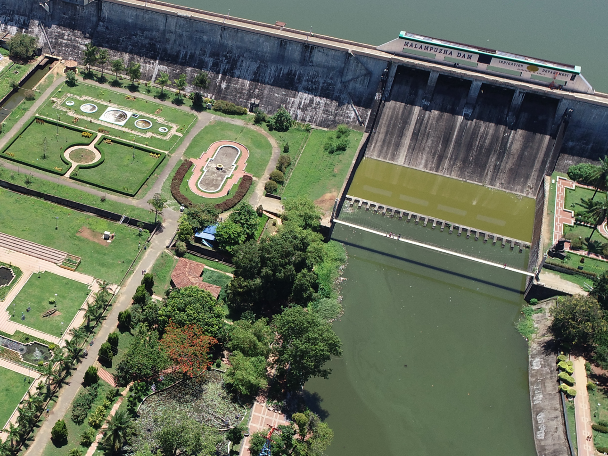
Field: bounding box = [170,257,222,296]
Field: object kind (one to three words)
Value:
building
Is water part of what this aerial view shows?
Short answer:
Yes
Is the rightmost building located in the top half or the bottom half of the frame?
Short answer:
top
